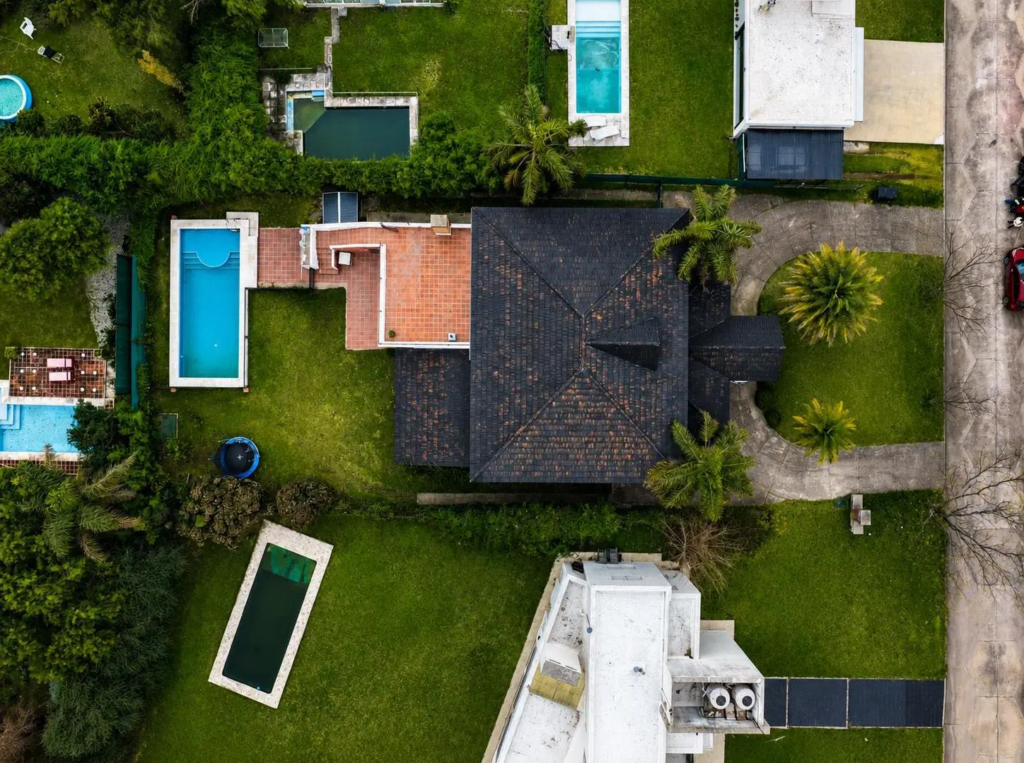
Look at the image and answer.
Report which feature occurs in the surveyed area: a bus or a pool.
pool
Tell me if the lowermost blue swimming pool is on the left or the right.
left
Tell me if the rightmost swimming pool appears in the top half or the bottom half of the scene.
top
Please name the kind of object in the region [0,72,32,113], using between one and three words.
swimming pool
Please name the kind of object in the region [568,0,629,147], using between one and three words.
swimming pool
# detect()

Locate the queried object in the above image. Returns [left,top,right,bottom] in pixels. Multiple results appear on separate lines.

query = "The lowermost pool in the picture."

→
[209,521,333,708]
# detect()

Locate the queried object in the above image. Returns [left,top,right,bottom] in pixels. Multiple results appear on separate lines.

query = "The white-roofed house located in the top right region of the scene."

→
[733,0,863,184]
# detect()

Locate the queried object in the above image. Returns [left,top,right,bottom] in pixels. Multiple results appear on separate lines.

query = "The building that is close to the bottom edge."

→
[492,563,765,763]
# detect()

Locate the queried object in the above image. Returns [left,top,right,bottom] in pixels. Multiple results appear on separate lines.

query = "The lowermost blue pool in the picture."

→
[0,396,92,460]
